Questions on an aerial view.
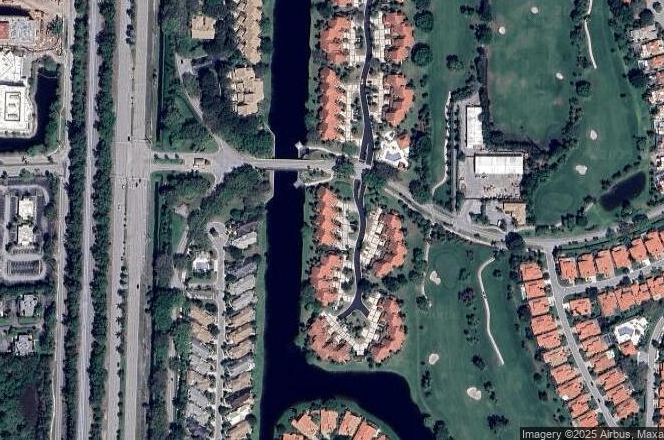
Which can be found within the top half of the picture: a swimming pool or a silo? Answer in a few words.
swimming pool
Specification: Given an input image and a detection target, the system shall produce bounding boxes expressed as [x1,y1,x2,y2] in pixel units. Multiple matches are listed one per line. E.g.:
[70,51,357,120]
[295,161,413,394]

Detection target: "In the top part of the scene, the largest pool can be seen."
[379,132,409,169]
